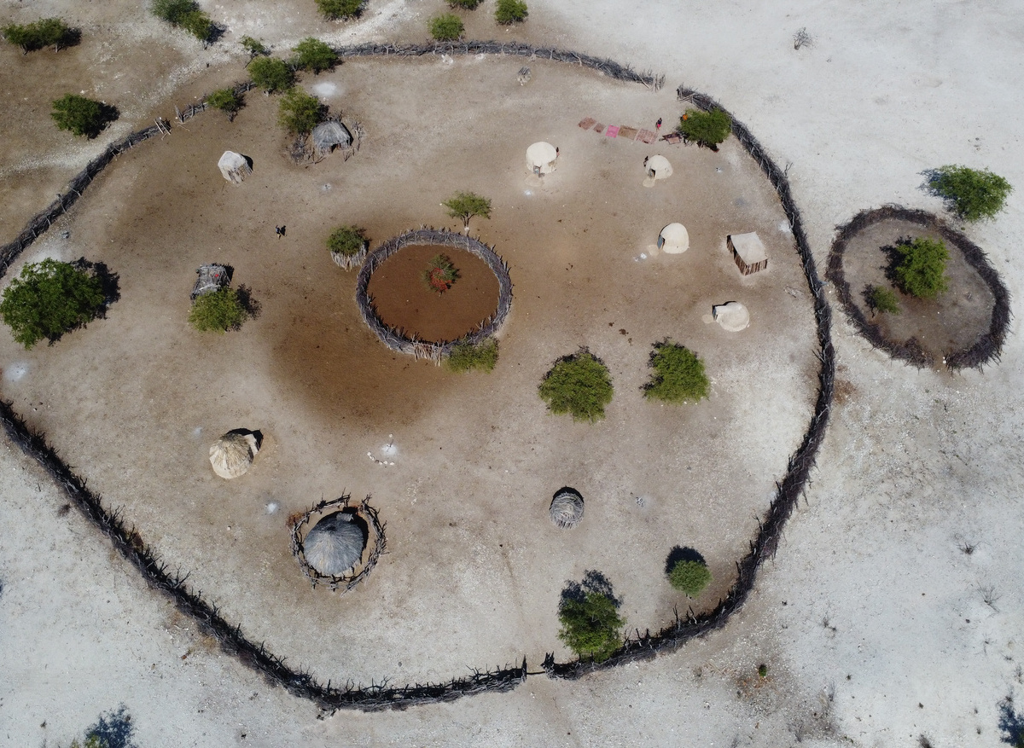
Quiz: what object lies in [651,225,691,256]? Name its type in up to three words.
shed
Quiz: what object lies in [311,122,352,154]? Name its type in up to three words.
shed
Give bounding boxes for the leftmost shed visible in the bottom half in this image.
[205,434,274,479]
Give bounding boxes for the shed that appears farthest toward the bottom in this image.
[305,513,363,577]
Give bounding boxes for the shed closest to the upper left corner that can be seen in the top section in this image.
[219,151,253,184]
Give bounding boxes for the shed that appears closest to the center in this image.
[549,489,583,529]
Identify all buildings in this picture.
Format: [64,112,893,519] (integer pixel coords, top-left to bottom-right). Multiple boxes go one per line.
[205,434,274,479]
[643,154,673,187]
[305,513,363,577]
[311,122,352,154]
[703,303,751,333]
[524,147,555,183]
[549,489,583,529]
[219,151,253,184]
[725,232,767,275]
[651,225,691,256]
